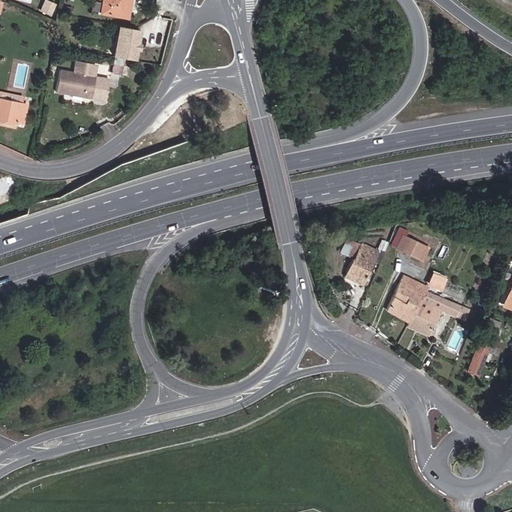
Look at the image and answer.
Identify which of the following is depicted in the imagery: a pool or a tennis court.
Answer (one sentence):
This aerial view contains a pool.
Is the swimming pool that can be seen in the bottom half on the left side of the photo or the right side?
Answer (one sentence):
The swimming pool that can be seen in the bottom half appears in the right half of the scene.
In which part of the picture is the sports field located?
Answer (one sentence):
You can find the sports field in the bottom area of the picture.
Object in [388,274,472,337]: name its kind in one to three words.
house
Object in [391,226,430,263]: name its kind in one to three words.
house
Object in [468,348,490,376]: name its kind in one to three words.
shed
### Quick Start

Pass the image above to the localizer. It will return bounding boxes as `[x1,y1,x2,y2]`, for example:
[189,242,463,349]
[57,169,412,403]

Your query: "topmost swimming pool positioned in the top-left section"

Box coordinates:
[6,58,32,96]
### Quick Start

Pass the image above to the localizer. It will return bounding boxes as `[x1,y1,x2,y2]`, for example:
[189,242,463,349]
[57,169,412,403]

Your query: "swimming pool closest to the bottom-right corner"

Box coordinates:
[444,326,465,355]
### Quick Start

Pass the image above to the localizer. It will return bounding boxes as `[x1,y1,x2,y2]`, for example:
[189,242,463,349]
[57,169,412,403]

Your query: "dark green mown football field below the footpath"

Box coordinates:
[0,397,448,512]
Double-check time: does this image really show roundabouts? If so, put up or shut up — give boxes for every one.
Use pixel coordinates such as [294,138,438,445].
[414,422,512,500]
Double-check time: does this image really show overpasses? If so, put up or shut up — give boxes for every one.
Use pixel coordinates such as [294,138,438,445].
[248,115,302,246]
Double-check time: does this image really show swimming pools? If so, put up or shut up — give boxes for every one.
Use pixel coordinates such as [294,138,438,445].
[6,58,32,96]
[444,326,465,355]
